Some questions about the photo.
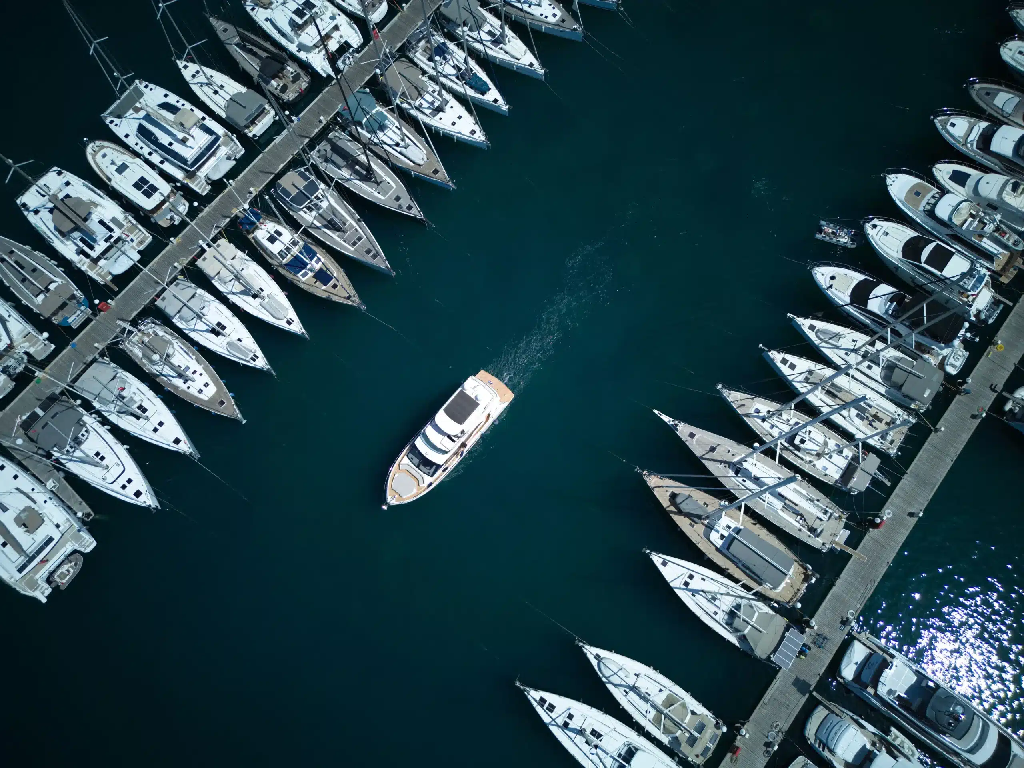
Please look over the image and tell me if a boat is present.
Yes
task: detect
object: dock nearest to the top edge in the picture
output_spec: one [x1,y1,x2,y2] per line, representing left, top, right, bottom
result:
[0,0,446,444]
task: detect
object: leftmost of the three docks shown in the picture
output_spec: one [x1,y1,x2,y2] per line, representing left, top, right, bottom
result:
[0,402,96,520]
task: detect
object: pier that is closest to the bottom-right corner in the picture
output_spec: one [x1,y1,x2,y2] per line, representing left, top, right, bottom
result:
[717,293,1024,768]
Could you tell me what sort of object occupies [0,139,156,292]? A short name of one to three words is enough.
boat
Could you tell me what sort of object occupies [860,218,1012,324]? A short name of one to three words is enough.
boat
